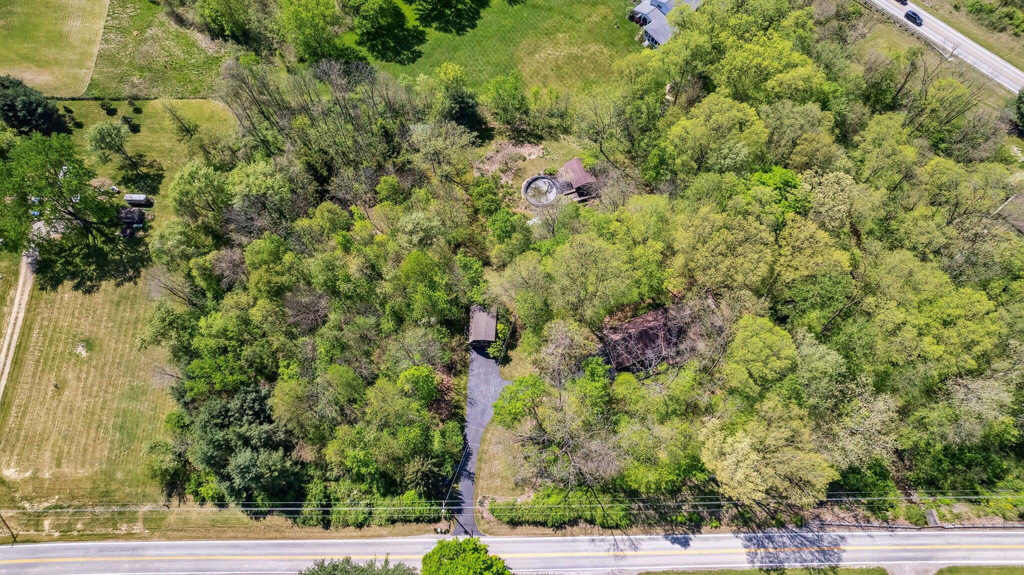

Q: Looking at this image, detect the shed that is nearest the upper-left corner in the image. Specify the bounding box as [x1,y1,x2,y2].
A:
[113,203,145,221]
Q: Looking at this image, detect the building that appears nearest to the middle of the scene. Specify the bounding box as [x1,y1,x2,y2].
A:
[470,302,496,345]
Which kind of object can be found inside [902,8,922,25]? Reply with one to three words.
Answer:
car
